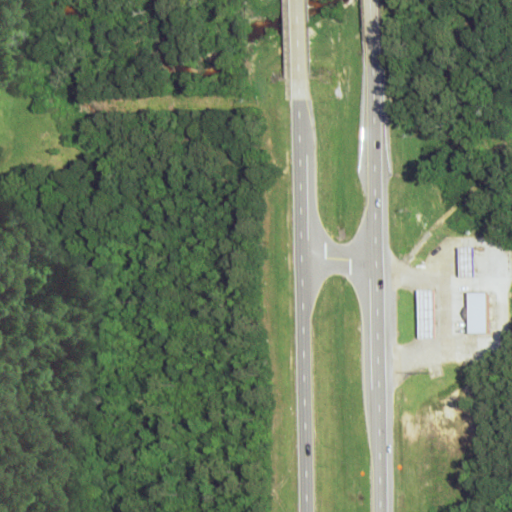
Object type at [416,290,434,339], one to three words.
building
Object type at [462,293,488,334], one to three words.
building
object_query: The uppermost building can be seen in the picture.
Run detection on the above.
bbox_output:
[458,248,472,277]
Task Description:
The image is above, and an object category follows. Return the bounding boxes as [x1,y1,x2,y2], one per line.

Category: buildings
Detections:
[416,290,434,339]
[458,248,472,277]
[462,293,488,334]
